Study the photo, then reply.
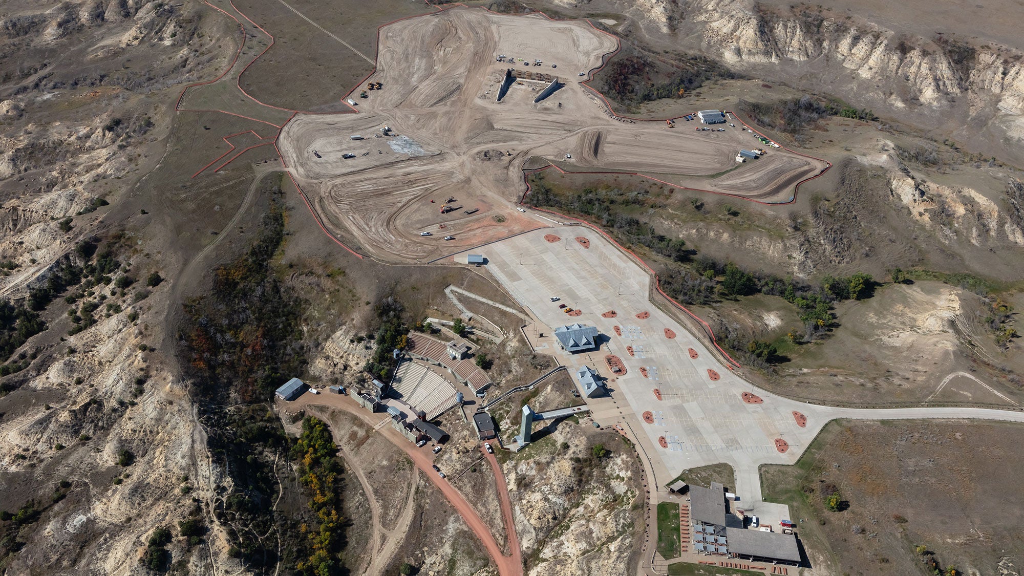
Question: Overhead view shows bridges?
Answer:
Yes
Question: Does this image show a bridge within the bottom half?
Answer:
Yes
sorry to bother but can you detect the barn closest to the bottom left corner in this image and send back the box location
[275,376,305,401]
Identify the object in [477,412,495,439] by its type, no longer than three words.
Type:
building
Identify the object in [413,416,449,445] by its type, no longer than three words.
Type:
building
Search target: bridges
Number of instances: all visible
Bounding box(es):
[531,404,591,441]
